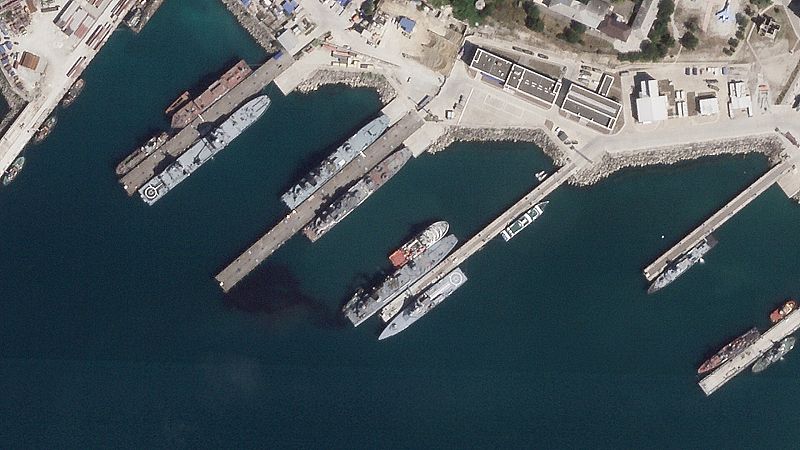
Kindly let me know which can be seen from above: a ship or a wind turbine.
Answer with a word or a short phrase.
ship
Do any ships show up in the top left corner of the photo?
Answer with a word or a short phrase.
Yes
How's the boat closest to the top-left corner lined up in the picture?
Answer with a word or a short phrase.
at an angle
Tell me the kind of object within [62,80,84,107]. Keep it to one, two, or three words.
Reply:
boat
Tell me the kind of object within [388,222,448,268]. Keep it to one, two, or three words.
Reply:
ship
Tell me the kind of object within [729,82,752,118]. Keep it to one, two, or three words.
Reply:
building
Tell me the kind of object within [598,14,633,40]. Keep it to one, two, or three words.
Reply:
house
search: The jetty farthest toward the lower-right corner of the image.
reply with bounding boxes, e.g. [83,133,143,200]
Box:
[698,305,800,395]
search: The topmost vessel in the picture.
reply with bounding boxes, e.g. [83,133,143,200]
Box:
[120,0,165,37]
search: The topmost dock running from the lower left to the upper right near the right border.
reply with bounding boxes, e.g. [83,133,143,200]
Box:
[643,161,788,280]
